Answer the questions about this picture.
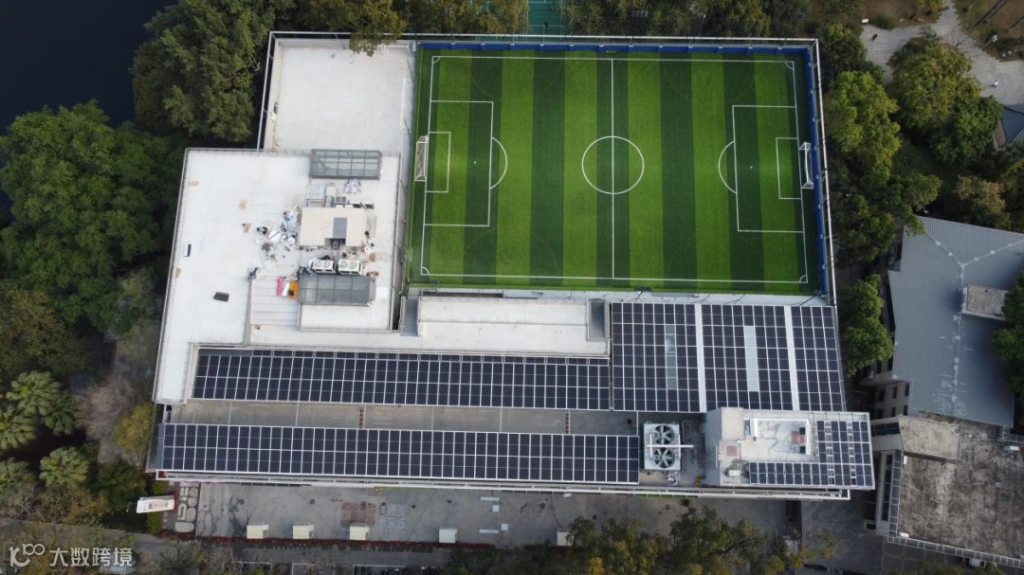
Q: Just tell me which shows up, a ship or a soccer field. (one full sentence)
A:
Looking from above, you can make out a soccer field.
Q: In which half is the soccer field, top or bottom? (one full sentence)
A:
The soccer field sits in the top half of the picture.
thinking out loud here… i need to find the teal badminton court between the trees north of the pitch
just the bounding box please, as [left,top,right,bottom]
[496,0,590,43]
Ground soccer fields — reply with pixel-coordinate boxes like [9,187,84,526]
[403,50,818,294]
